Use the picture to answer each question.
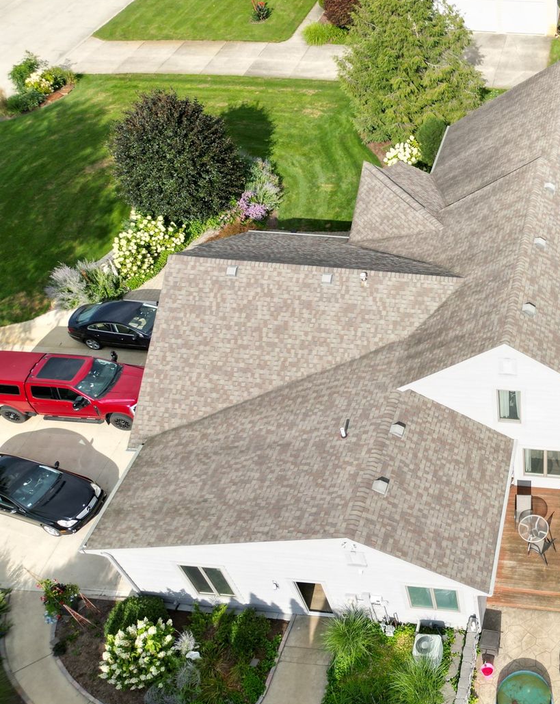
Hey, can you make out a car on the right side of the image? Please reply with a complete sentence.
No, looking on the right side of the image, there is no car.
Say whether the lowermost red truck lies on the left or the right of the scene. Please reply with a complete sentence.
The lowermost red truck appears in the left half of the scene.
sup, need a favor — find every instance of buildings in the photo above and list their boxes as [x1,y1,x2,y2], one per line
[76,61,560,637]
[430,0,560,36]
